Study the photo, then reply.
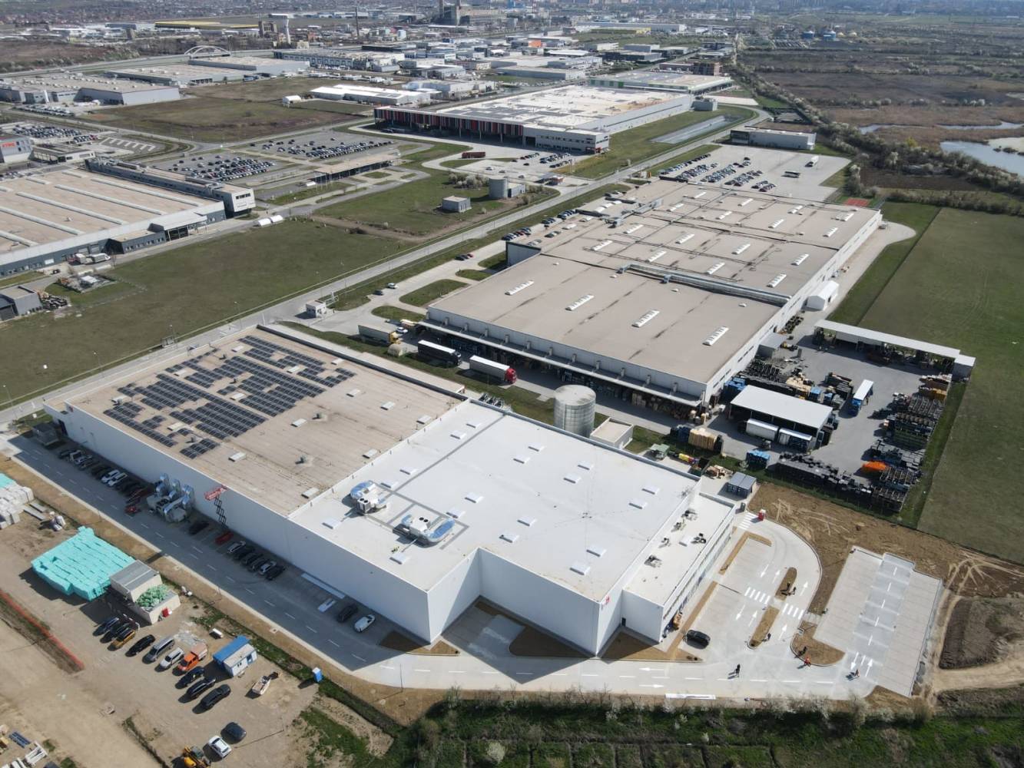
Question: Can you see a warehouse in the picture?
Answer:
Yes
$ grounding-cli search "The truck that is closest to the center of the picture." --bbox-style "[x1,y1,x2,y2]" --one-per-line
[466,357,519,385]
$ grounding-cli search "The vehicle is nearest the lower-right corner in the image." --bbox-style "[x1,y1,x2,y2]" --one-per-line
[683,625,713,646]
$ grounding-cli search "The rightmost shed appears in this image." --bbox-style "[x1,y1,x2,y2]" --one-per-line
[951,354,976,379]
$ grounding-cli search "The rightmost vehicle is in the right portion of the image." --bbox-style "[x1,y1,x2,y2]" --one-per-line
[855,380,874,409]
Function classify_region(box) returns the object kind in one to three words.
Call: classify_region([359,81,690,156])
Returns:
building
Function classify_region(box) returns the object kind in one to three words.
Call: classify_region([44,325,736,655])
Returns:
warehouse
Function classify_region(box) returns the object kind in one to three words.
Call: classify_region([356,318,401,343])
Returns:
truck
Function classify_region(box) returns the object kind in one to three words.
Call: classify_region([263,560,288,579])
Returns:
car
